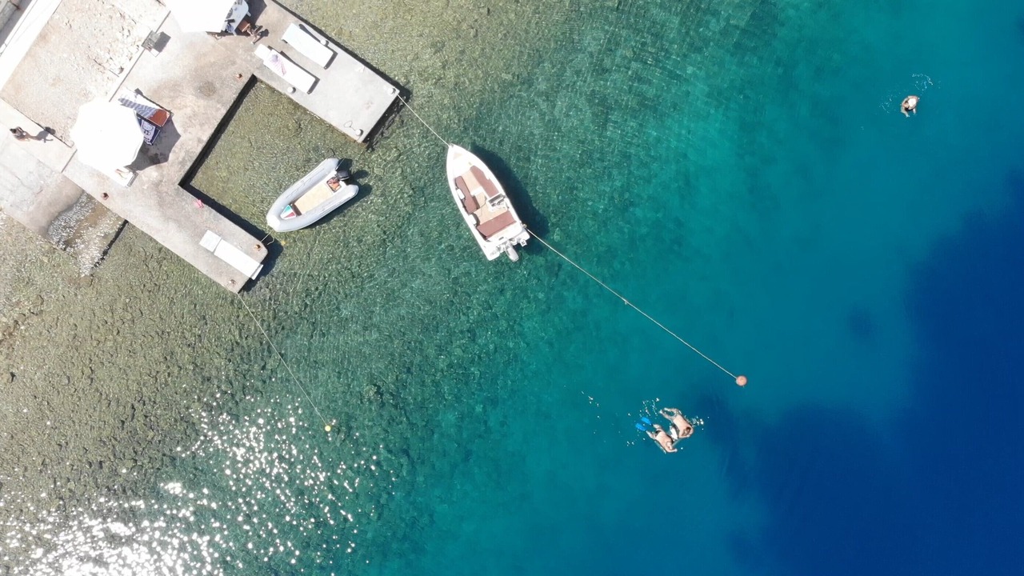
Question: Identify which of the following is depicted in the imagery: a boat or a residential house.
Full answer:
The one in the frame is a boat.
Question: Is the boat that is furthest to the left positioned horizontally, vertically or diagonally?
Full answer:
What the image shows is the boat that is furthest to the left lying diagonally.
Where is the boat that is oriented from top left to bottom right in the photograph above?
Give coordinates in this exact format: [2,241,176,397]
[446,144,530,261]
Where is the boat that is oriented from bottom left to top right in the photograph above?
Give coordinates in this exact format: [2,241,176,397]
[262,154,363,234]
